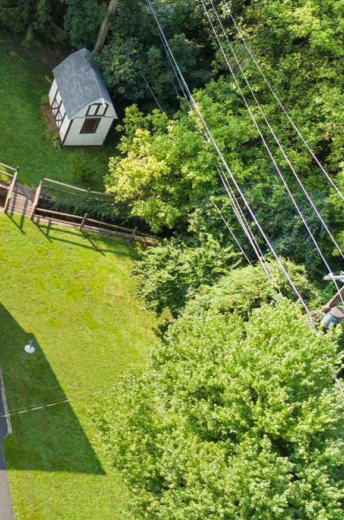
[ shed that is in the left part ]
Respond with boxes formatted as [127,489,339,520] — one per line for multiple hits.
[44,49,118,147]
